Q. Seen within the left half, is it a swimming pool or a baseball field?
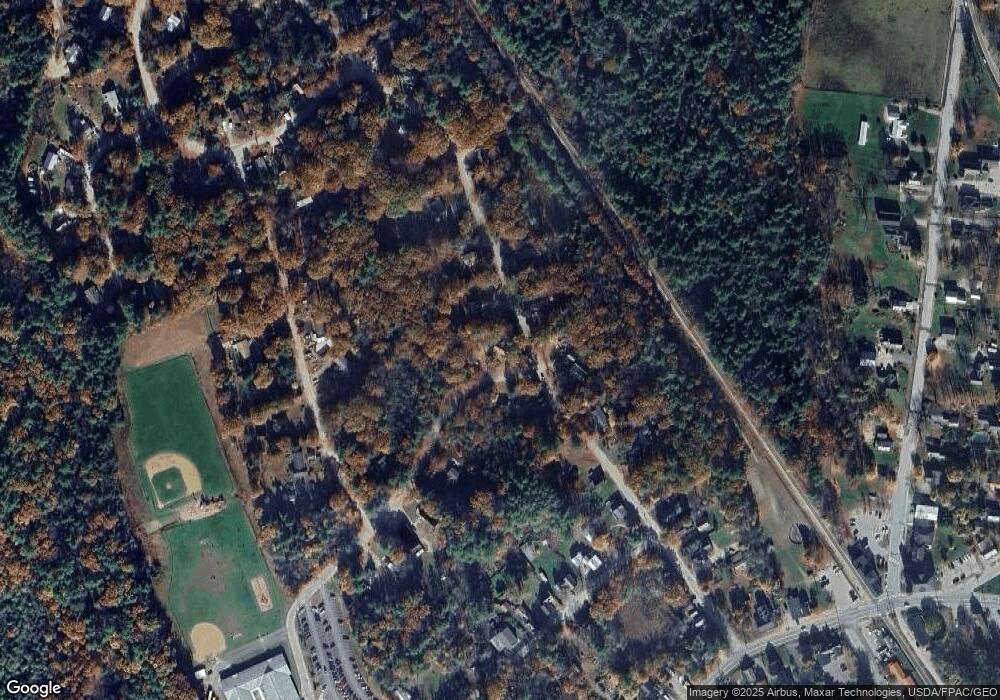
baseball field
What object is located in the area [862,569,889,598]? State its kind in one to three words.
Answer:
building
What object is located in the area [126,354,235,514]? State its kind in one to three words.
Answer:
baseball field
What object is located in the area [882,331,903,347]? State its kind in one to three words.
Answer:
house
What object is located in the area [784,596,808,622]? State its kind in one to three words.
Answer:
building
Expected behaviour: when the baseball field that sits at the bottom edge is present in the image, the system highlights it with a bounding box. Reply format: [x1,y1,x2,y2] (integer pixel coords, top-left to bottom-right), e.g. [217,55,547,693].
[167,499,287,667]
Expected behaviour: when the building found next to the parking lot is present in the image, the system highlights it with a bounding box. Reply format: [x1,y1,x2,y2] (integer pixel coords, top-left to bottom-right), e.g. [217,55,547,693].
[221,655,306,700]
